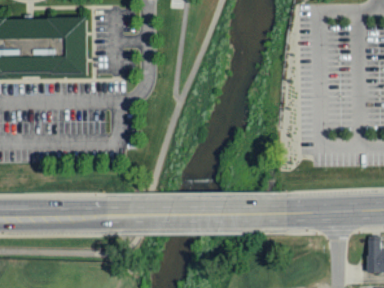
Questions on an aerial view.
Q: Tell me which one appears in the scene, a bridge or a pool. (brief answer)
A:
bridge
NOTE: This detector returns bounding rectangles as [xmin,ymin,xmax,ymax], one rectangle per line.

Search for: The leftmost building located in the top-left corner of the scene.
[0,14,86,80]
